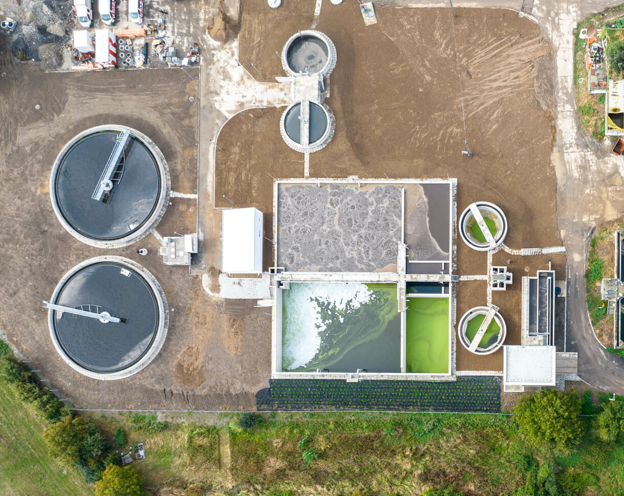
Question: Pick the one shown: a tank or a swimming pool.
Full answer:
I can see a tank in this picture.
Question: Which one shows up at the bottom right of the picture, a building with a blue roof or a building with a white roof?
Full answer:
There is a building with a white roof at the bottom right of the picture.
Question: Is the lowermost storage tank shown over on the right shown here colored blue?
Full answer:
No, from above the lowermost storage tank shown over on the right looks white.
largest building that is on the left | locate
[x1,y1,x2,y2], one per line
[222,208,265,276]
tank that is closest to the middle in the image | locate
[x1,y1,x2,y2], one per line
[280,100,336,152]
